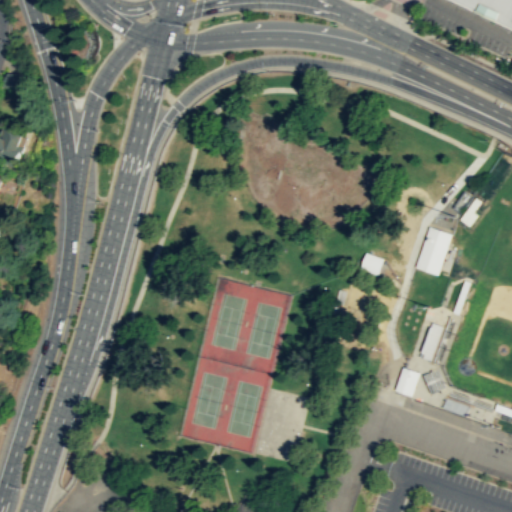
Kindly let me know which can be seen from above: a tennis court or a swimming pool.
tennis court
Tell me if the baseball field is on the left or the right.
right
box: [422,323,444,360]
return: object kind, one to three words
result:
building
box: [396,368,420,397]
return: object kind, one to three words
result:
shed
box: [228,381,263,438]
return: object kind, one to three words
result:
tennis court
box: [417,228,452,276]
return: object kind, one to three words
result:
barn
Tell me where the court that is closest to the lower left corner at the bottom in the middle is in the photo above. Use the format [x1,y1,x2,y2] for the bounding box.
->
[192,372,228,430]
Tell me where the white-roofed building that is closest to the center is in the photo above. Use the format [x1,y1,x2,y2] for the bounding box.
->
[360,252,384,276]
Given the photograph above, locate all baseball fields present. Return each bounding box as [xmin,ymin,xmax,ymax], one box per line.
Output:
[459,285,512,406]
